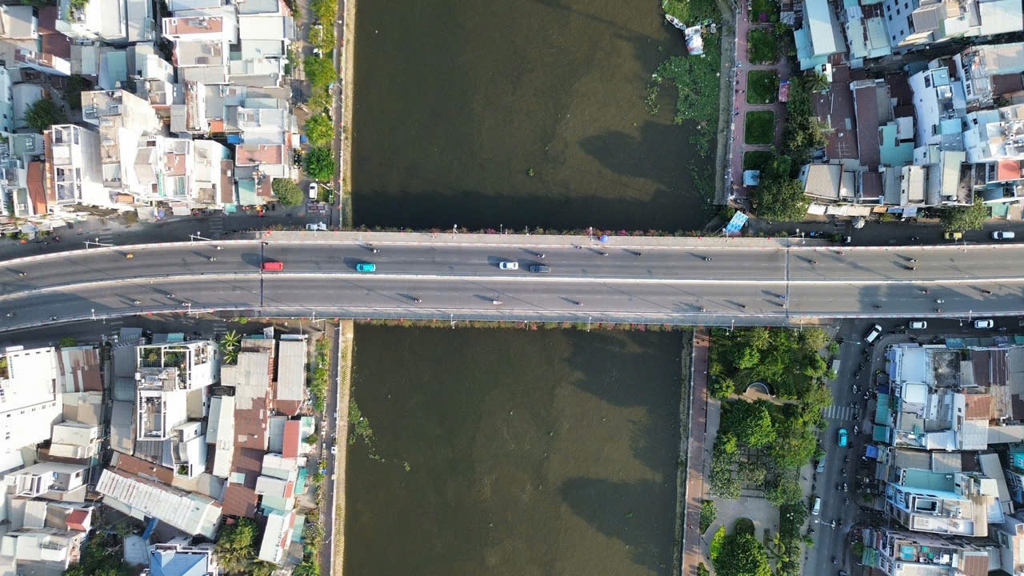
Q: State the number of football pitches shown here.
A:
0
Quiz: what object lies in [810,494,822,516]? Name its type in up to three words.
vehicle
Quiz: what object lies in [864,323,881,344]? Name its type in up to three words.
vehicle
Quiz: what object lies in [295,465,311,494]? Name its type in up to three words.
shed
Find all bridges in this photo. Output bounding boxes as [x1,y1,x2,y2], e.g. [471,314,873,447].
[0,228,1024,332]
